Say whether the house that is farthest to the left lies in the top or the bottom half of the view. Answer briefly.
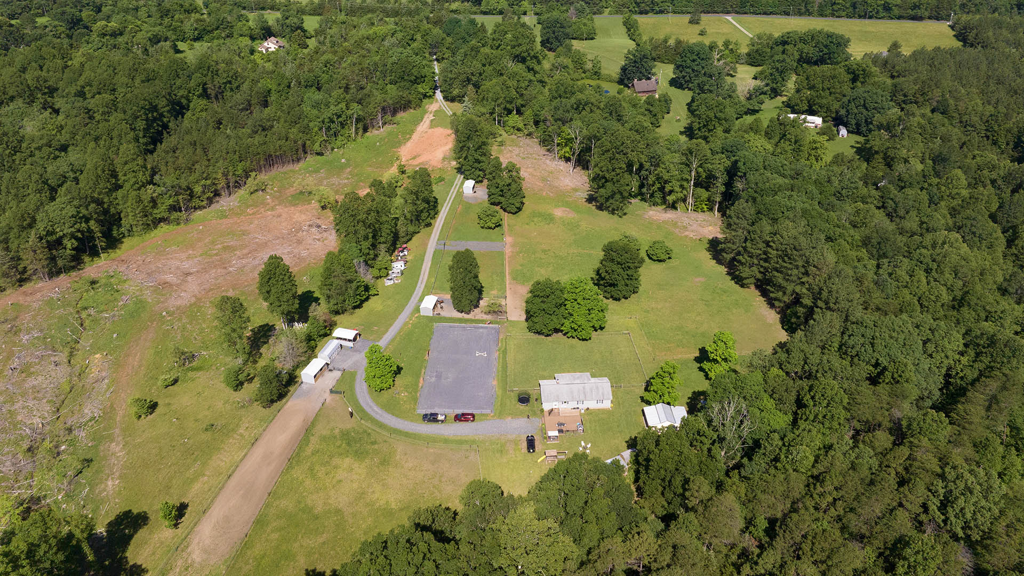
top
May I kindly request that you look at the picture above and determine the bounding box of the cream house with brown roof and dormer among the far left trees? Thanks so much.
[256,33,288,53]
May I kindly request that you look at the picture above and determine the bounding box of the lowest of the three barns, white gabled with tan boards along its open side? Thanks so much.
[300,357,326,384]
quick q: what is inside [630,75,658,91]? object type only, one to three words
house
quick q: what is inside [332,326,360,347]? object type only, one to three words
barn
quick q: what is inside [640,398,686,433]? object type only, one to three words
shed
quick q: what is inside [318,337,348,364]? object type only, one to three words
barn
